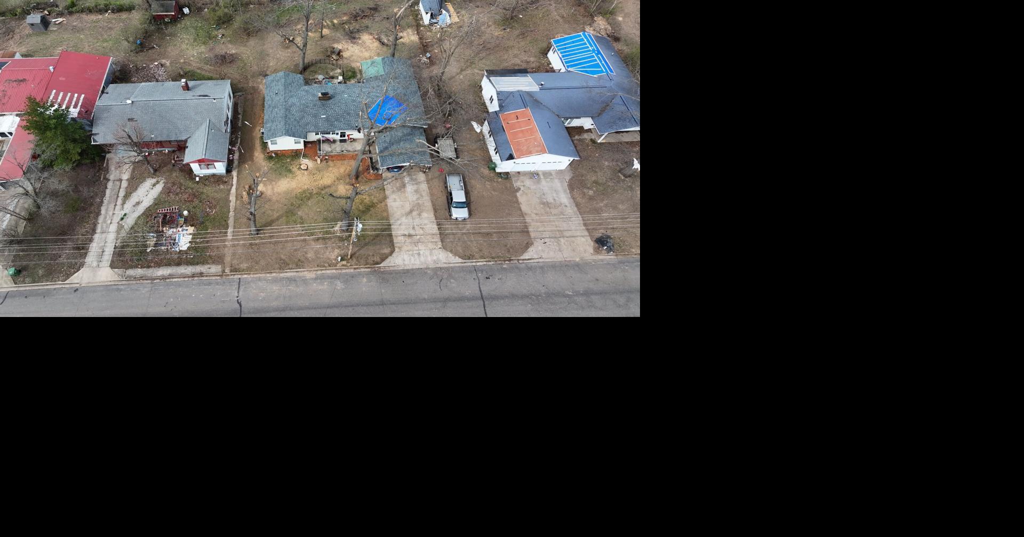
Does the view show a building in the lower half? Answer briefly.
No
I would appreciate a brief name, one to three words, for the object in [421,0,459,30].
shed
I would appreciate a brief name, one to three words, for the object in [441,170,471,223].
truck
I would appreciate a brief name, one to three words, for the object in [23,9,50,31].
shed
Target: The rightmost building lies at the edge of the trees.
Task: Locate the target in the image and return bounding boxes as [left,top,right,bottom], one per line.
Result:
[480,30,641,172]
